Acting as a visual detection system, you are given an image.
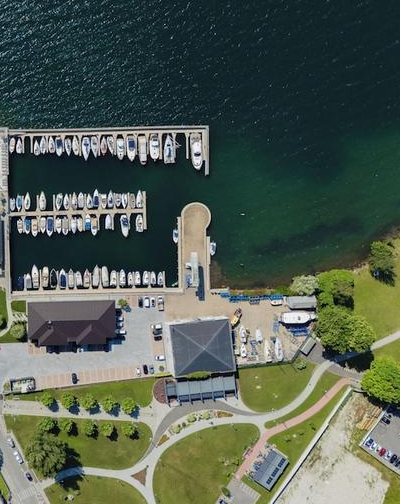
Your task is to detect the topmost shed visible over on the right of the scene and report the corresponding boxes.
[283,296,316,309]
